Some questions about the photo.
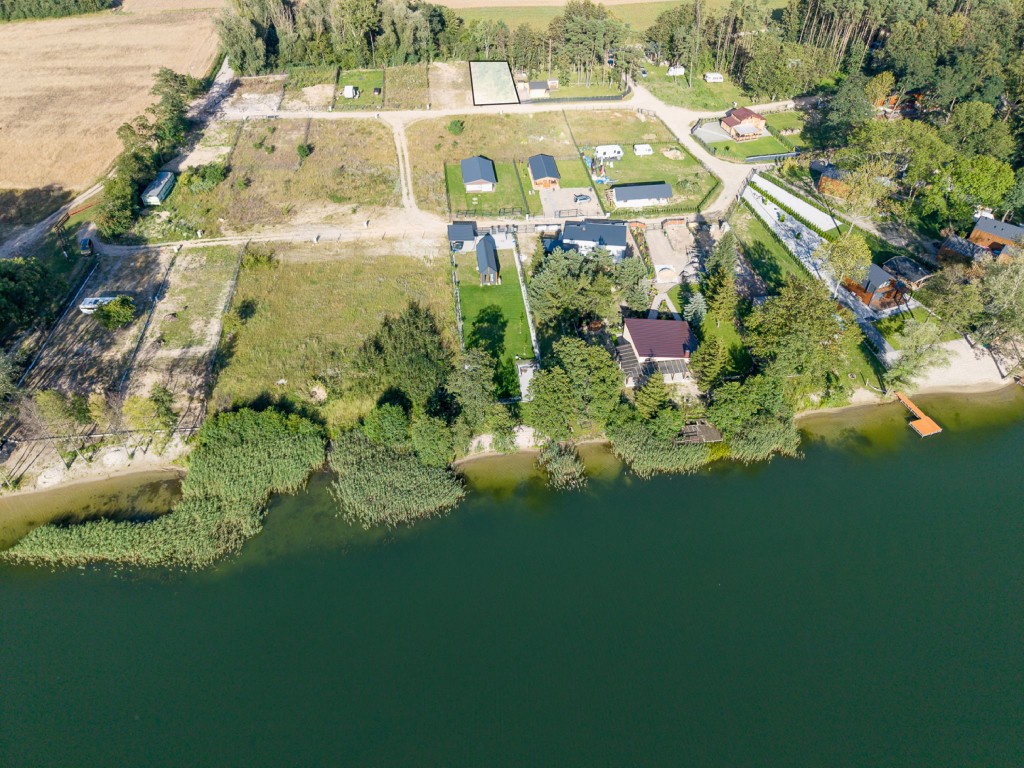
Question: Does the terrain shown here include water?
Yes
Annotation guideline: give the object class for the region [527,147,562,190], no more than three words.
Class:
building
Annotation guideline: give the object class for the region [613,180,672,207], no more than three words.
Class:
shed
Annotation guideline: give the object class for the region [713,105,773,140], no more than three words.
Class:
house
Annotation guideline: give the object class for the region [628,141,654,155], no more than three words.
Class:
camper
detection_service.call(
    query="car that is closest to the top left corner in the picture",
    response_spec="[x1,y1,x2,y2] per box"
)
[77,239,94,253]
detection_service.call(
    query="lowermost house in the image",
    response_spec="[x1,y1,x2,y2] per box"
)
[623,318,690,370]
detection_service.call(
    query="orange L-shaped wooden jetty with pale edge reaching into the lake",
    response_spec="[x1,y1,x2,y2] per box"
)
[893,391,943,440]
